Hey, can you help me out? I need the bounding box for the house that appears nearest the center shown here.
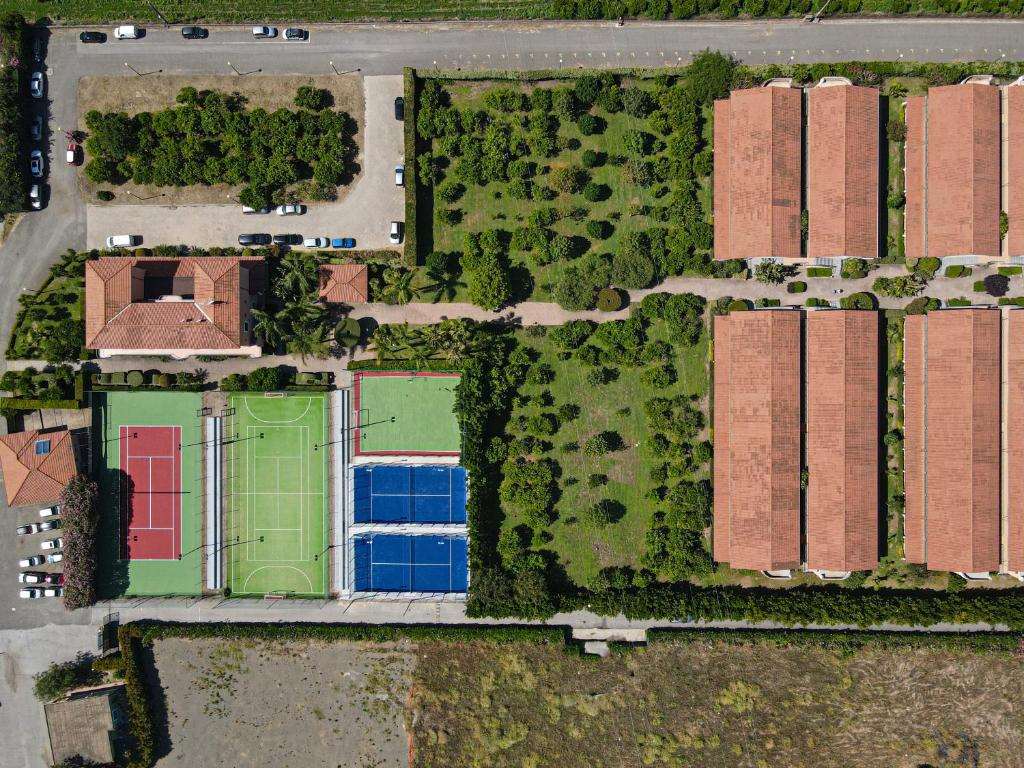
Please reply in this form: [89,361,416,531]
[319,264,369,303]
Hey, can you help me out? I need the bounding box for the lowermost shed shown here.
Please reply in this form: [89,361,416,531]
[45,691,121,768]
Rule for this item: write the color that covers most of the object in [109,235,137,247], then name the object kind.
white vehicle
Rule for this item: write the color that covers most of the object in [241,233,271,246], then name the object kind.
black vehicle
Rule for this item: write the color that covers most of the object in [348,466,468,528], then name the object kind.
blue sports court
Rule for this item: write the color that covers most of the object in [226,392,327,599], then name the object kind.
green sports court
